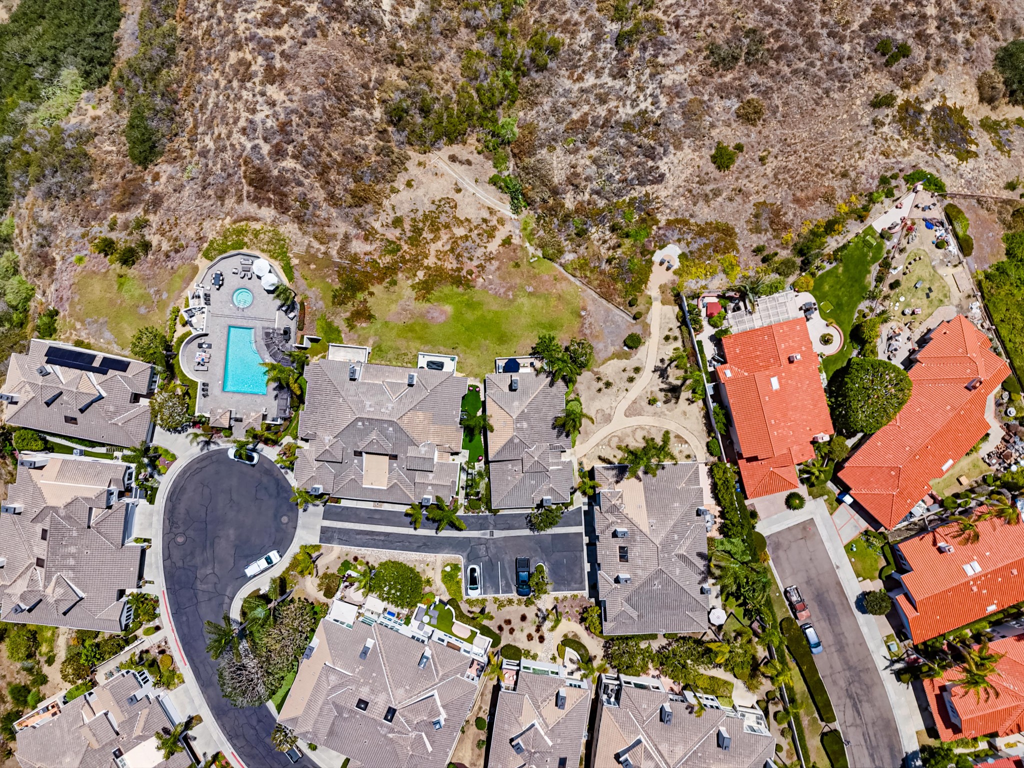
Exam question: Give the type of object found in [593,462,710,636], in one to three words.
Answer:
house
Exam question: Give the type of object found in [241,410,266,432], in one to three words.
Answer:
building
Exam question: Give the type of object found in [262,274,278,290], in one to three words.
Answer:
umbrella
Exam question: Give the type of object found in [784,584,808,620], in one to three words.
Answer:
truck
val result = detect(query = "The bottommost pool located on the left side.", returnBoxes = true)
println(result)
[221,324,270,398]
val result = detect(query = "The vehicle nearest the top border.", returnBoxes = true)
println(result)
[228,447,261,465]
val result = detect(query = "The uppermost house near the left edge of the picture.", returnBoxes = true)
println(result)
[0,336,160,447]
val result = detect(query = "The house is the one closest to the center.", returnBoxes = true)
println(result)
[485,356,574,510]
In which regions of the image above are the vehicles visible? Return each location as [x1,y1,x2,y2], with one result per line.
[784,584,808,620]
[515,556,530,596]
[801,623,821,653]
[243,551,283,577]
[465,564,481,595]
[228,447,261,465]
